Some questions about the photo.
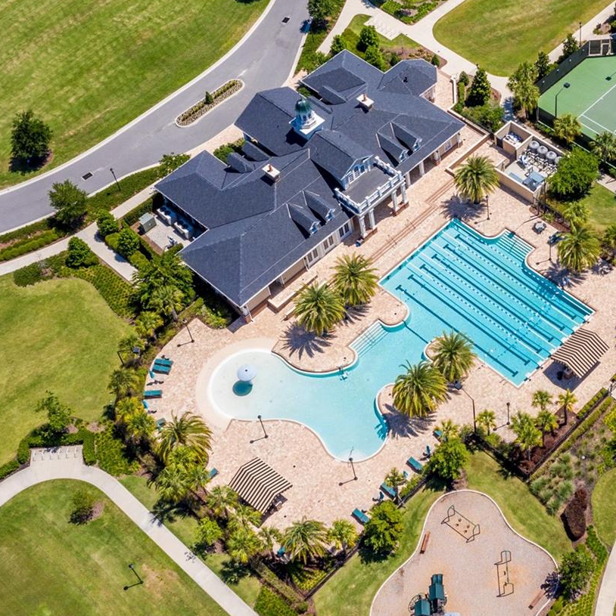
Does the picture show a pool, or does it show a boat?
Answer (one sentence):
Of the two, only a pool appears.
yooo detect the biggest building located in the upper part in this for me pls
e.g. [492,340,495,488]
[153,48,466,323]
